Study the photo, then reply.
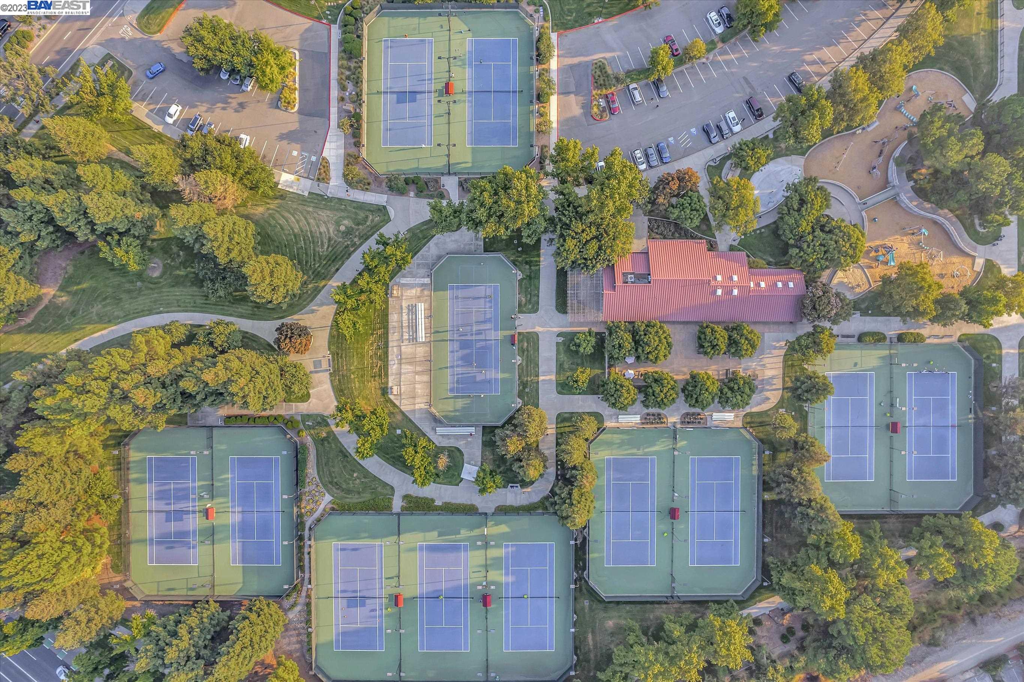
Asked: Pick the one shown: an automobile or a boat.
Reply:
automobile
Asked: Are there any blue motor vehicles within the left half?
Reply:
Yes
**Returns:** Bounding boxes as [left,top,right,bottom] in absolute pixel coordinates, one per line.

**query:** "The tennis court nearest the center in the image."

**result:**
[431,255,516,424]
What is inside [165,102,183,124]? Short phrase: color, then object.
white car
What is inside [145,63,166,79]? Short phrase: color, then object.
blue car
